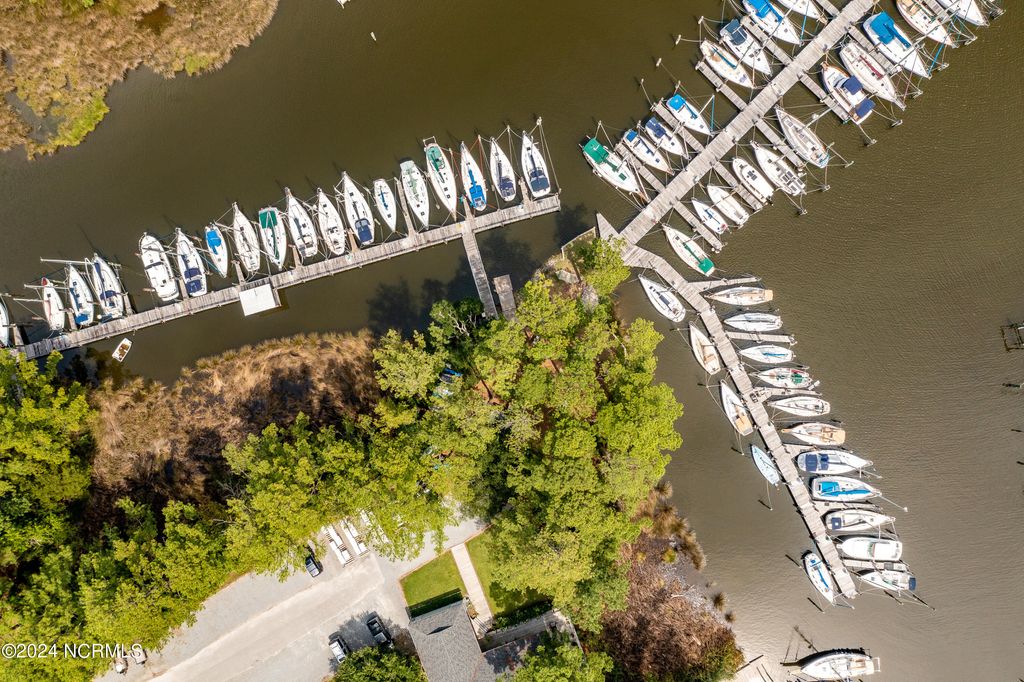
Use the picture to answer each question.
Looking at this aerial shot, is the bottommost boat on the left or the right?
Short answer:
right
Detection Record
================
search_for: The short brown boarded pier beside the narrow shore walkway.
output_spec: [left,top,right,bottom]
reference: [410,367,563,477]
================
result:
[492,273,516,321]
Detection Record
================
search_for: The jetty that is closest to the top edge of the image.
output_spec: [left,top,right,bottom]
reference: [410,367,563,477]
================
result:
[590,0,1002,261]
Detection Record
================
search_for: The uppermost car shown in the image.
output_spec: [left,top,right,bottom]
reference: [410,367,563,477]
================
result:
[305,551,324,578]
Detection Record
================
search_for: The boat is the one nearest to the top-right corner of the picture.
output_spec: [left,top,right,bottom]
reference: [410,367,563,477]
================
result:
[939,0,1004,37]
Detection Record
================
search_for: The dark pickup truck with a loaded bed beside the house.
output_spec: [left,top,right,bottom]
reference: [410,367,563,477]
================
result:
[364,614,393,646]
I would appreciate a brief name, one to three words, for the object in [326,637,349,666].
truck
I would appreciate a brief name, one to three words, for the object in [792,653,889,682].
boat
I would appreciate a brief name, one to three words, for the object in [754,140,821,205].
boat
